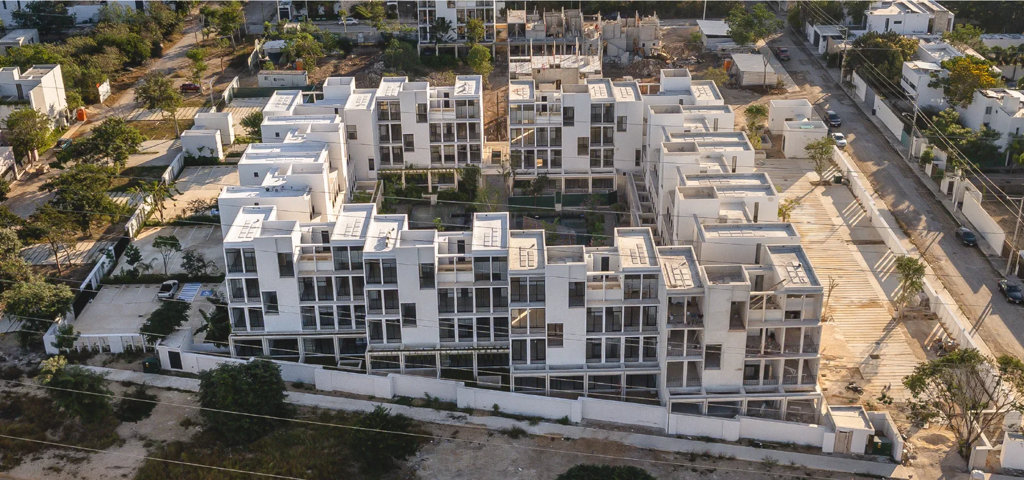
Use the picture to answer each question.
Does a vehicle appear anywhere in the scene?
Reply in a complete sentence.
Yes, the frame does contain a vehicle.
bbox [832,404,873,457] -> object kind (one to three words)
shed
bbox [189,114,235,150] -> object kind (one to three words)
building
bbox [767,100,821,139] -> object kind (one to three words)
building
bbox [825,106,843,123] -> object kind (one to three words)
car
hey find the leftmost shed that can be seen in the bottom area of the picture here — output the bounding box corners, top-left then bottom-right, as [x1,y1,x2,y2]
[157,326,193,367]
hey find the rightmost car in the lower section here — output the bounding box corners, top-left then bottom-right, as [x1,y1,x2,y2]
[1000,277,1024,299]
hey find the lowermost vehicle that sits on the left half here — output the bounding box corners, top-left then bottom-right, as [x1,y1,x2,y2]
[152,279,183,298]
